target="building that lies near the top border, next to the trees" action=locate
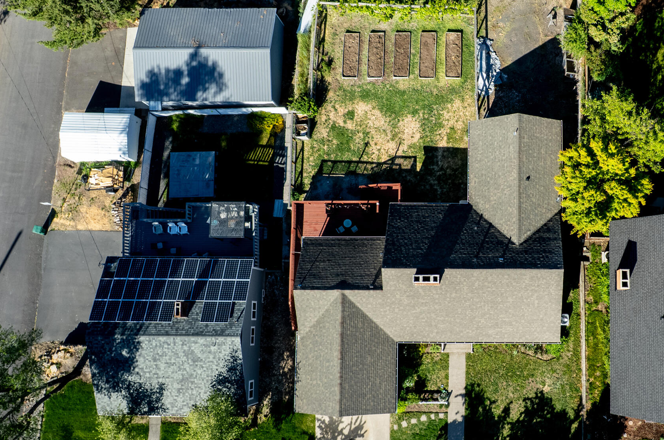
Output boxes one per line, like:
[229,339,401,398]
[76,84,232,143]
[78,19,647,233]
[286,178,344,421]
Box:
[120,8,287,114]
